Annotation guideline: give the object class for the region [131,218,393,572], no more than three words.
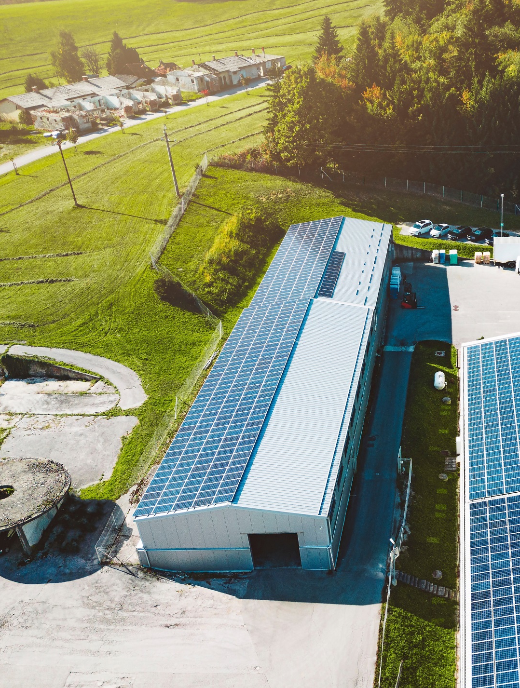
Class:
building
